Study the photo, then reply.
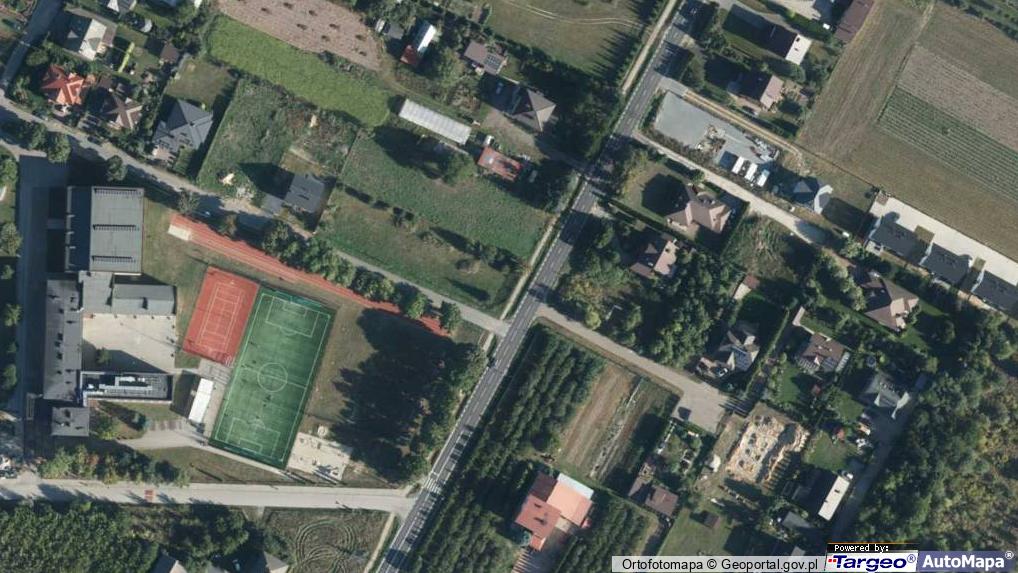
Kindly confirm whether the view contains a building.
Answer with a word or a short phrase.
Yes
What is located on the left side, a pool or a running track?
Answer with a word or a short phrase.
running track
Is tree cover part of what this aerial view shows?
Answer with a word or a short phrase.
Yes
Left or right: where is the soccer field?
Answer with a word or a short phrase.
left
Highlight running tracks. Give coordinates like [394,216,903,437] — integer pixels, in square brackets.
[167,214,449,335]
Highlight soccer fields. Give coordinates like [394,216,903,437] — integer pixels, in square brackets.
[209,286,337,468]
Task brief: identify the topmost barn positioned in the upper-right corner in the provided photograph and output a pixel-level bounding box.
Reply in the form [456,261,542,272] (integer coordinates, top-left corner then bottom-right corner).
[832,0,876,44]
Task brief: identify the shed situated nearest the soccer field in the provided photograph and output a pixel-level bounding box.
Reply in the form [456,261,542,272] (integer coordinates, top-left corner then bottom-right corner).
[188,378,214,423]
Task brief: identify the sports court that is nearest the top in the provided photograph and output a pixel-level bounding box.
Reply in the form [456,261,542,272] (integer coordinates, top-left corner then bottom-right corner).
[183,267,259,366]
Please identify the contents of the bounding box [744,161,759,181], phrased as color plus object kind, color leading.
white vehicle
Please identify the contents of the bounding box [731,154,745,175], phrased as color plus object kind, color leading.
white vehicle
